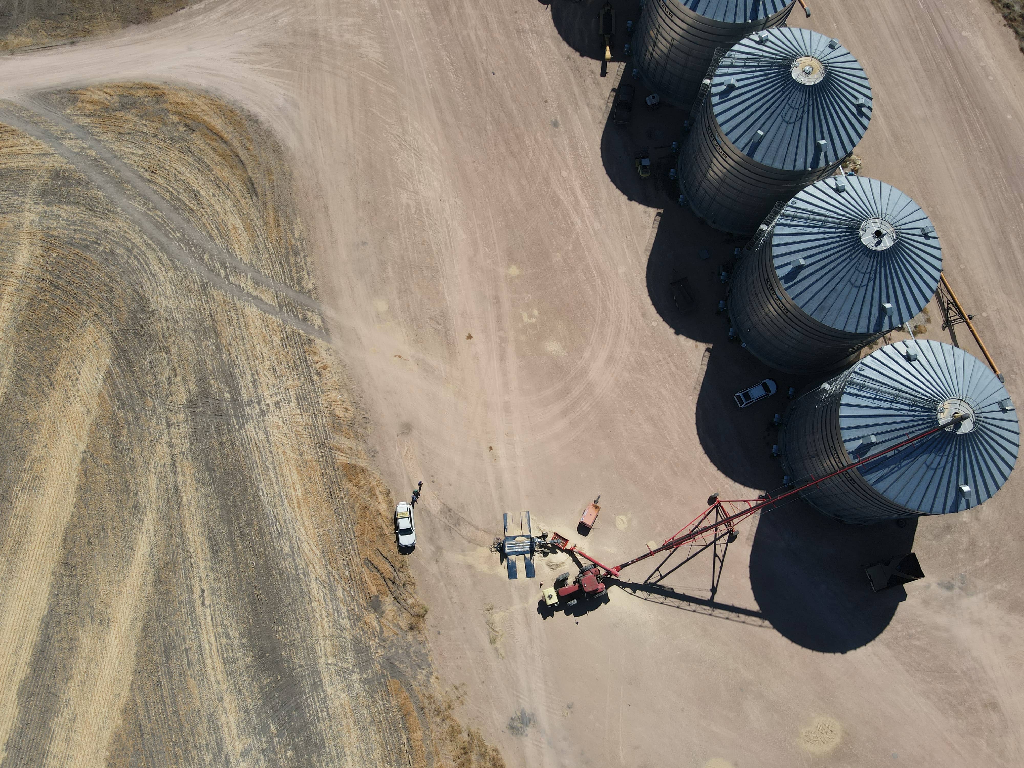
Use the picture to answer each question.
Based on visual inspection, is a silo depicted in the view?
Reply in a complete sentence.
Yes, you can see a silo in this photo.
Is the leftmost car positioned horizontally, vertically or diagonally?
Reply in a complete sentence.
I'd say the leftmost car is aligned vertically in the picture.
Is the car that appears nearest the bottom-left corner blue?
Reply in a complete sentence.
No, the color of the car that appears nearest the bottom-left corner is white.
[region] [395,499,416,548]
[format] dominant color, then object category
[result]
white car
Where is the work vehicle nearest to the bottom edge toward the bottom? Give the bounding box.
[542,561,609,609]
